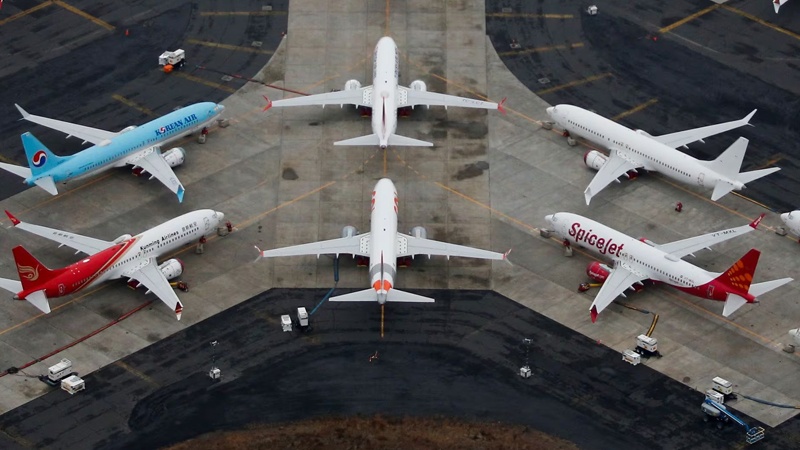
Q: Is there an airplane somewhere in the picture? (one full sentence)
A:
Yes, looking at the shot, I can spot an airplane.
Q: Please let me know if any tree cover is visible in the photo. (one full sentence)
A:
No, the scene doesn't show any tree cover.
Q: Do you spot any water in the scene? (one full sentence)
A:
No, the scene doesn't show any water.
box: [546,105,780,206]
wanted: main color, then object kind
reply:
white airplane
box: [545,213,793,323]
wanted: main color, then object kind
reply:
white airplane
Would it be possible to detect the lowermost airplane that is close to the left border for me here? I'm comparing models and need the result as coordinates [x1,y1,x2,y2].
[0,210,225,320]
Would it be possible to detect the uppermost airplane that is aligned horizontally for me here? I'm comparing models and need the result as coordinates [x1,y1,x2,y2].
[262,38,506,149]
